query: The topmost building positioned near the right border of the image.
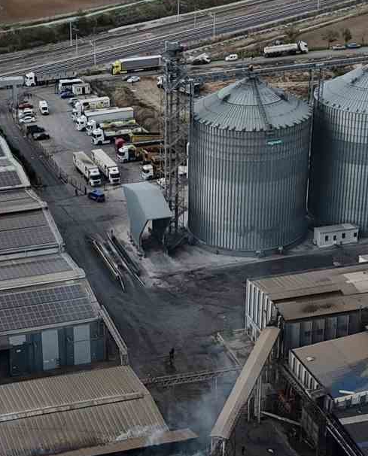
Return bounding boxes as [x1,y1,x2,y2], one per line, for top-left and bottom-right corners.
[314,220,362,247]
